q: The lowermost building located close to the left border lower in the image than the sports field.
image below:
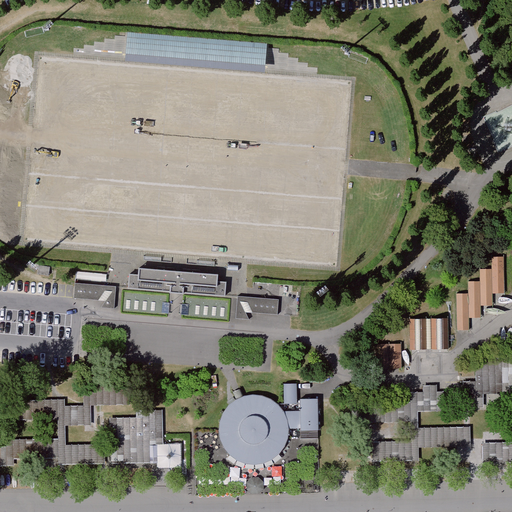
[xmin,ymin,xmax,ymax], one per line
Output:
[0,390,128,466]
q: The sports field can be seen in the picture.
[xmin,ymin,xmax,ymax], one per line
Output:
[20,52,356,270]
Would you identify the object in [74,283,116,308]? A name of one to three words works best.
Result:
building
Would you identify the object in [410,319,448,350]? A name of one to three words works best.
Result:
shed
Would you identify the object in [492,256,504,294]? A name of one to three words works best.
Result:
building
